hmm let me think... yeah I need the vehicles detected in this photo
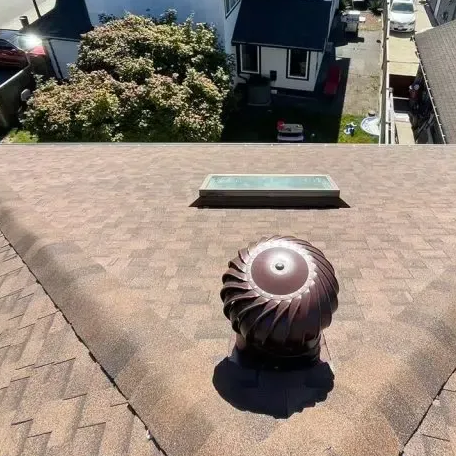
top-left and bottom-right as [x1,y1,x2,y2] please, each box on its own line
[381,0,418,33]
[0,26,45,68]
